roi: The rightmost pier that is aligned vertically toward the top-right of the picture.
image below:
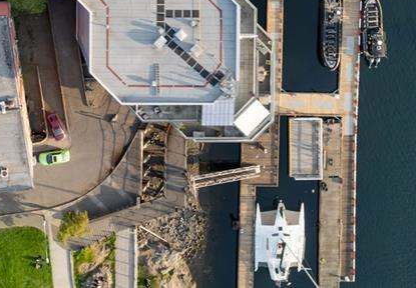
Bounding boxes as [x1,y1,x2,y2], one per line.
[338,0,362,137]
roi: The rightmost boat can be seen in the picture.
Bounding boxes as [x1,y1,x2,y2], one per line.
[361,0,386,65]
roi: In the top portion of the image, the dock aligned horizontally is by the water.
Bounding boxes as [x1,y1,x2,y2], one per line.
[275,90,344,117]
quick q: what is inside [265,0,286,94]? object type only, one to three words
pier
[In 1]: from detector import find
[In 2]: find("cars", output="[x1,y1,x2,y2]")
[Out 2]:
[37,147,71,164]
[47,110,66,141]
